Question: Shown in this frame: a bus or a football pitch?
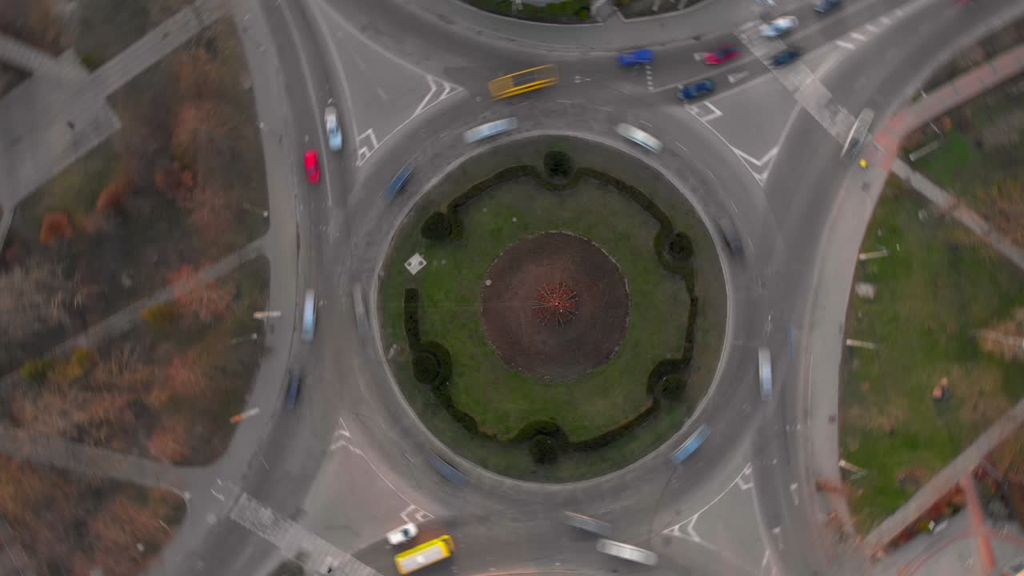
bus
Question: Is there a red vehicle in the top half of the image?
Yes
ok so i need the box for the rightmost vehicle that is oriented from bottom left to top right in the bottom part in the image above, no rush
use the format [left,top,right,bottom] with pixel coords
[669,424,710,464]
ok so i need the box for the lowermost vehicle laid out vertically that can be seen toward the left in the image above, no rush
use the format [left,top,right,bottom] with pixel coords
[283,368,304,407]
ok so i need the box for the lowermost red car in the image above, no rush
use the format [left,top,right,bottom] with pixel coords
[303,149,322,184]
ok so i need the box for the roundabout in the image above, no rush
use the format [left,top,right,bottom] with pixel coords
[303,0,802,576]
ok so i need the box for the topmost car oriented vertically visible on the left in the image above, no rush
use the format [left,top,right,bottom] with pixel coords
[322,106,344,151]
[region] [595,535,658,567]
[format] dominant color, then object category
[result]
white vehicle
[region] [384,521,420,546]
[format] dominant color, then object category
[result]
white car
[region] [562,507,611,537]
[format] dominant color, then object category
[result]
gray van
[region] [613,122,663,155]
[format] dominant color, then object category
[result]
white vehicle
